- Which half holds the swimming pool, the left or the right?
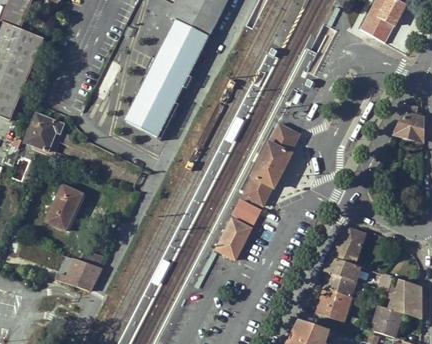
left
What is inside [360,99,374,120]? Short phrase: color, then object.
white vehicle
